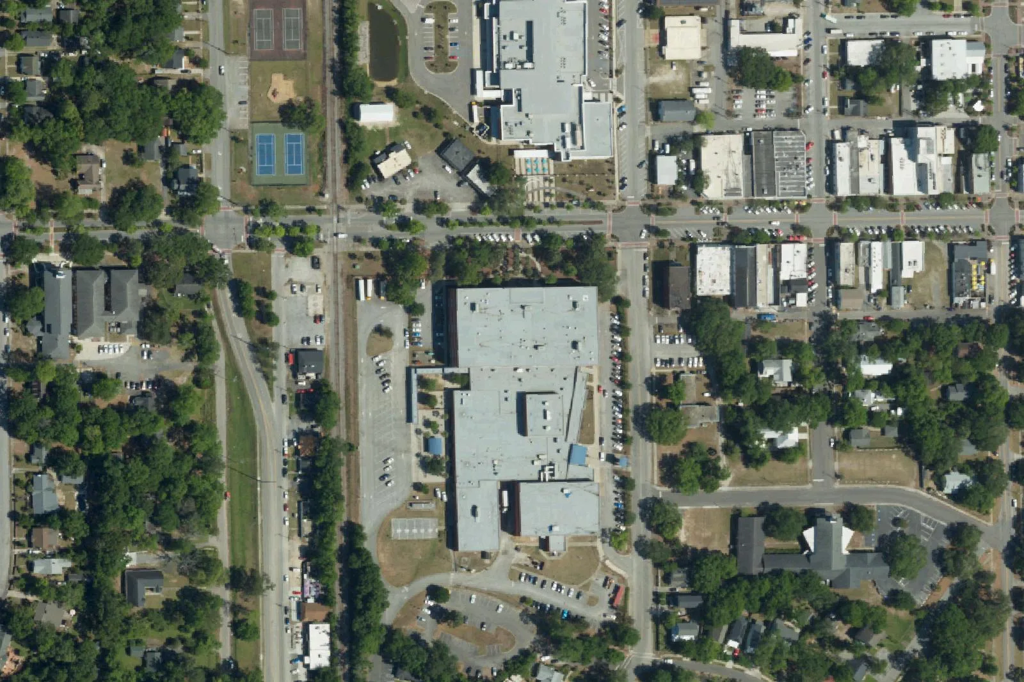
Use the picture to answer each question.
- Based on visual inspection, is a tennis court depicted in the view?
Yes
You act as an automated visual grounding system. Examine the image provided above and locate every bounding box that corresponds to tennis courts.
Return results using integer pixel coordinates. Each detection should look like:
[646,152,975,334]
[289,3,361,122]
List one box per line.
[282,8,303,49]
[285,133,304,174]
[256,133,276,174]
[254,8,274,49]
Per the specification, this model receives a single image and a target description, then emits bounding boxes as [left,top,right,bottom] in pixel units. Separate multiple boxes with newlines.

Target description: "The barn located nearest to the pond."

[358,103,396,122]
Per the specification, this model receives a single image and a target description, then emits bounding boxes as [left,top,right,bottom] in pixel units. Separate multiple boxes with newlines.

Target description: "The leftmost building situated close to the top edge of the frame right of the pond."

[474,0,613,161]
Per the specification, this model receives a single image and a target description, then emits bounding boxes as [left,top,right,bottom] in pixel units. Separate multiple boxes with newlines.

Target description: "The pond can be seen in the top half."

[369,3,399,80]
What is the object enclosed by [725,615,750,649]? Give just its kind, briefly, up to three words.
house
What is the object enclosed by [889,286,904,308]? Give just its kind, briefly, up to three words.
shed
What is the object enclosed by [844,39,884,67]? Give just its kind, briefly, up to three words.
building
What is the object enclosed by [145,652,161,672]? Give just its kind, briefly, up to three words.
house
